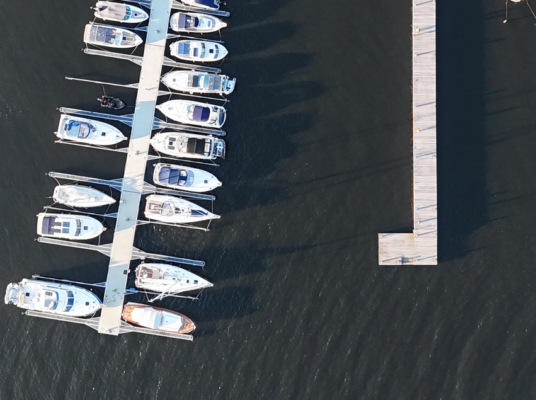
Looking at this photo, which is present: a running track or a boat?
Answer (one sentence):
I can see a boat in this picture.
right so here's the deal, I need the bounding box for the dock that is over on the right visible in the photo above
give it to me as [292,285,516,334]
[378,0,438,265]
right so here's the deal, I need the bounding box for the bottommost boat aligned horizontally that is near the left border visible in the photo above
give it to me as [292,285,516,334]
[6,273,109,320]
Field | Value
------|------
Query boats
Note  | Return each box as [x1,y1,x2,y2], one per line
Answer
[90,1,149,25]
[39,211,109,241]
[151,97,231,130]
[84,25,145,52]
[120,297,197,336]
[47,181,117,214]
[168,39,228,63]
[144,191,223,231]
[151,163,225,194]
[144,127,230,163]
[135,262,214,302]
[169,12,231,35]
[6,273,109,320]
[158,67,238,98]
[54,116,130,150]
[185,0,230,12]
[93,94,132,111]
